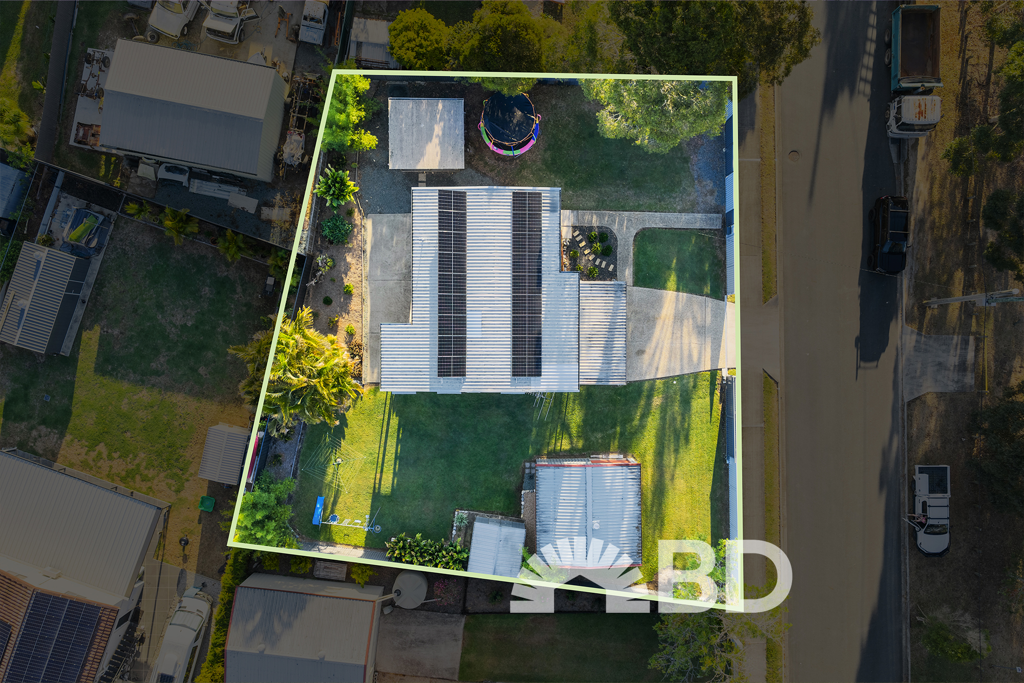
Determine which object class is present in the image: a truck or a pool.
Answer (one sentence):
Of the two, only a truck appears.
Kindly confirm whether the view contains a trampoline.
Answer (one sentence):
Yes, the photo shows a trampoline.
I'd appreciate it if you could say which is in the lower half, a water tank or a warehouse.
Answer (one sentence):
The one visible in the lower half is a water tank.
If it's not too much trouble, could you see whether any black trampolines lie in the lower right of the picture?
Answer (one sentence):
No, in the lower right of the picture there is no black trampoline.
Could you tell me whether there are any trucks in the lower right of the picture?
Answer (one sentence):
Yes, a truck appears in the lower right of the picture.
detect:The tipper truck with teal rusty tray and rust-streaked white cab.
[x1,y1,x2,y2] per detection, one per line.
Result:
[874,7,943,138]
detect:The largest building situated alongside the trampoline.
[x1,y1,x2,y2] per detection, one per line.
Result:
[375,184,581,411]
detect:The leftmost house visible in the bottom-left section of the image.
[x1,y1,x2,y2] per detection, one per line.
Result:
[0,453,179,683]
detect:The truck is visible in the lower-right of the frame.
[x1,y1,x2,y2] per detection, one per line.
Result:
[902,464,956,555]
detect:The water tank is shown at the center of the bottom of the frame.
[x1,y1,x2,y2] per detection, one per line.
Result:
[376,568,439,612]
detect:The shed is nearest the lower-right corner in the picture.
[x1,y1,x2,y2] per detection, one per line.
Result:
[535,458,643,569]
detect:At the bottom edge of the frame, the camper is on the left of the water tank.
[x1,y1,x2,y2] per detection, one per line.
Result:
[141,585,210,683]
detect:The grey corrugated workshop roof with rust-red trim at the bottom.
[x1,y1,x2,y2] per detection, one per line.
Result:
[225,572,382,683]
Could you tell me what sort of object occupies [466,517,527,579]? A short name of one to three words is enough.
shed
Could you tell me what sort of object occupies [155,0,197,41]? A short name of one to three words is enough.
truck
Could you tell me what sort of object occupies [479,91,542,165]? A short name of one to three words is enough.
trampoline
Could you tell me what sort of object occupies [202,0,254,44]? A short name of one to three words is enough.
car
